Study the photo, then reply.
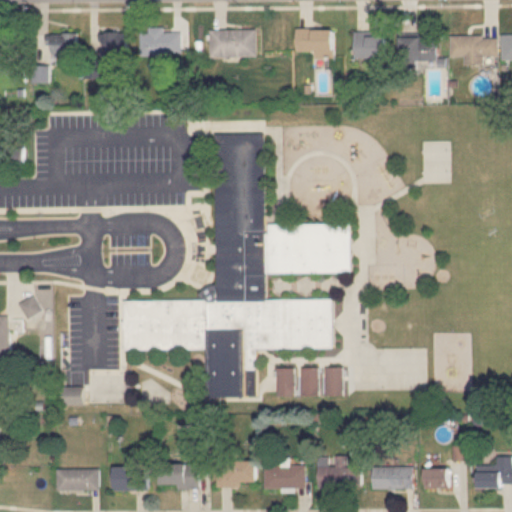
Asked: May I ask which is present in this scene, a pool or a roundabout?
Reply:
pool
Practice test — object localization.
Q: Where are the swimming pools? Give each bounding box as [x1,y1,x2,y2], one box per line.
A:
[471,74,493,96]
[434,424,454,444]
[315,70,332,97]
[426,68,447,104]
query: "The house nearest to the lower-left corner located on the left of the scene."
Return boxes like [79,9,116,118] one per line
[56,470,101,496]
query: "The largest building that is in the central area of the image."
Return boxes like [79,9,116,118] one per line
[124,133,352,398]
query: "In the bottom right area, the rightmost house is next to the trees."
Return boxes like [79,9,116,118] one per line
[474,457,512,490]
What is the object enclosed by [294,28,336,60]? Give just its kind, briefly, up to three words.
house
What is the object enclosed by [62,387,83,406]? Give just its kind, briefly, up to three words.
building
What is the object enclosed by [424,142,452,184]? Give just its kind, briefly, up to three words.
basketball court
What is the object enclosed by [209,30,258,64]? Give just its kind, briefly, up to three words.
house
